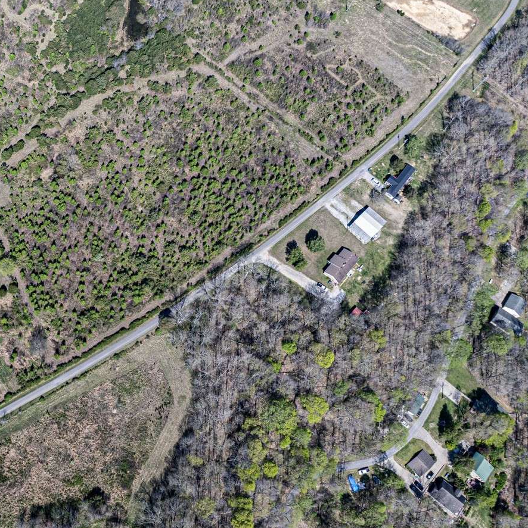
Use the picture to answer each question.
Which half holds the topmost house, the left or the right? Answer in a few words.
right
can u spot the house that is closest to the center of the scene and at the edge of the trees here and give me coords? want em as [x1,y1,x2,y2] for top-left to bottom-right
[322,250,361,288]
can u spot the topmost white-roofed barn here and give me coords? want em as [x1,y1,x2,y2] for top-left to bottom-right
[348,209,386,244]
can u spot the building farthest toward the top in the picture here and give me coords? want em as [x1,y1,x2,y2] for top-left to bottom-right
[383,163,416,204]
